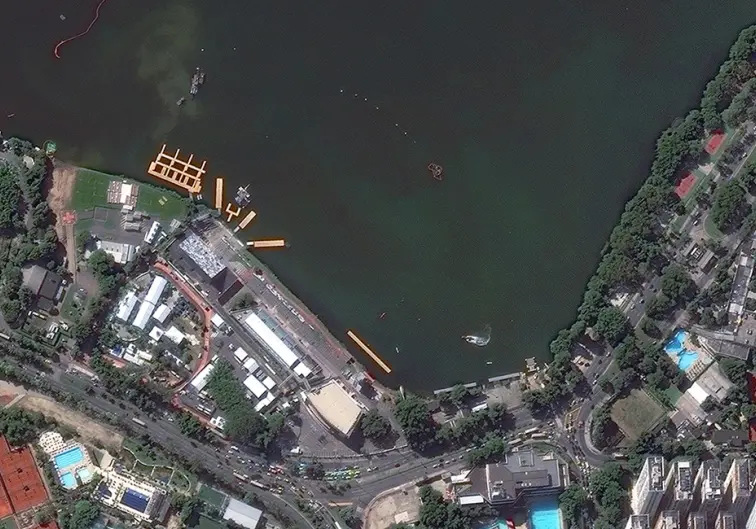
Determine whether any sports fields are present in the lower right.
Yes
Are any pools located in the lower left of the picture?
Yes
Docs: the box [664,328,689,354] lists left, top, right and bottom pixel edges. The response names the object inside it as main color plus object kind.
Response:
blue swimming pool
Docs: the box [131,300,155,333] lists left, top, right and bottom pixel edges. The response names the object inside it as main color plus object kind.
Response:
white tent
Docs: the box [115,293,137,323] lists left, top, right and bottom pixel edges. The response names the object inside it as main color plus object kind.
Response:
white tent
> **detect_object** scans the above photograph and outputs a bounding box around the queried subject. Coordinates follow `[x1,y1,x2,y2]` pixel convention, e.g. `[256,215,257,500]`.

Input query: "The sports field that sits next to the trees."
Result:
[612,387,667,440]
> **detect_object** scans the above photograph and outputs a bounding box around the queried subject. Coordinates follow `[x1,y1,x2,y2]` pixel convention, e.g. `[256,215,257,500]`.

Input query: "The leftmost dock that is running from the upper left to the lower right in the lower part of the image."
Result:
[347,331,391,374]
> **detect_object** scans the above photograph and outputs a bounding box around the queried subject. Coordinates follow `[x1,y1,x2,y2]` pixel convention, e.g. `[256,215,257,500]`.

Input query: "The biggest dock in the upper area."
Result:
[147,145,207,193]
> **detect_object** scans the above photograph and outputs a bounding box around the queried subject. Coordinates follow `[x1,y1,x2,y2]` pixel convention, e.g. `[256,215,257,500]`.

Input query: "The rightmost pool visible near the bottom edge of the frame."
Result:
[530,492,563,529]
